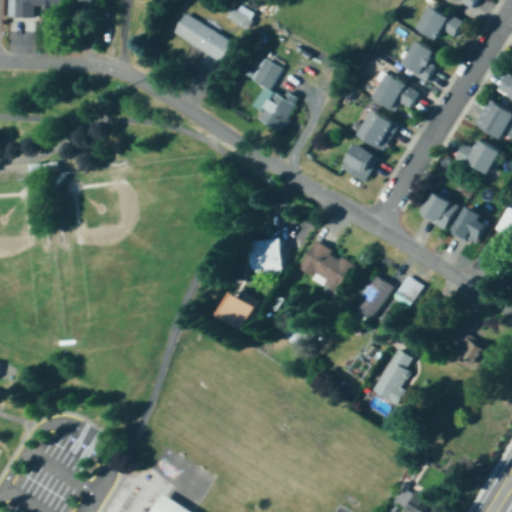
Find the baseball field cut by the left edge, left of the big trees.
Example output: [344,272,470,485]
[0,189,38,323]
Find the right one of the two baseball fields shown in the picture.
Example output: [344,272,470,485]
[70,173,206,324]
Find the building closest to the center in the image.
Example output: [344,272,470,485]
[250,238,283,272]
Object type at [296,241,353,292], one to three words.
house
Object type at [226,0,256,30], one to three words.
building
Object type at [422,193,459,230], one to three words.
house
